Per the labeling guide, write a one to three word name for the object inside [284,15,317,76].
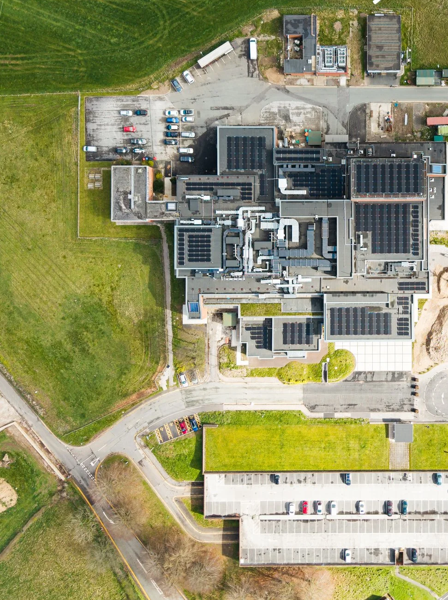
building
